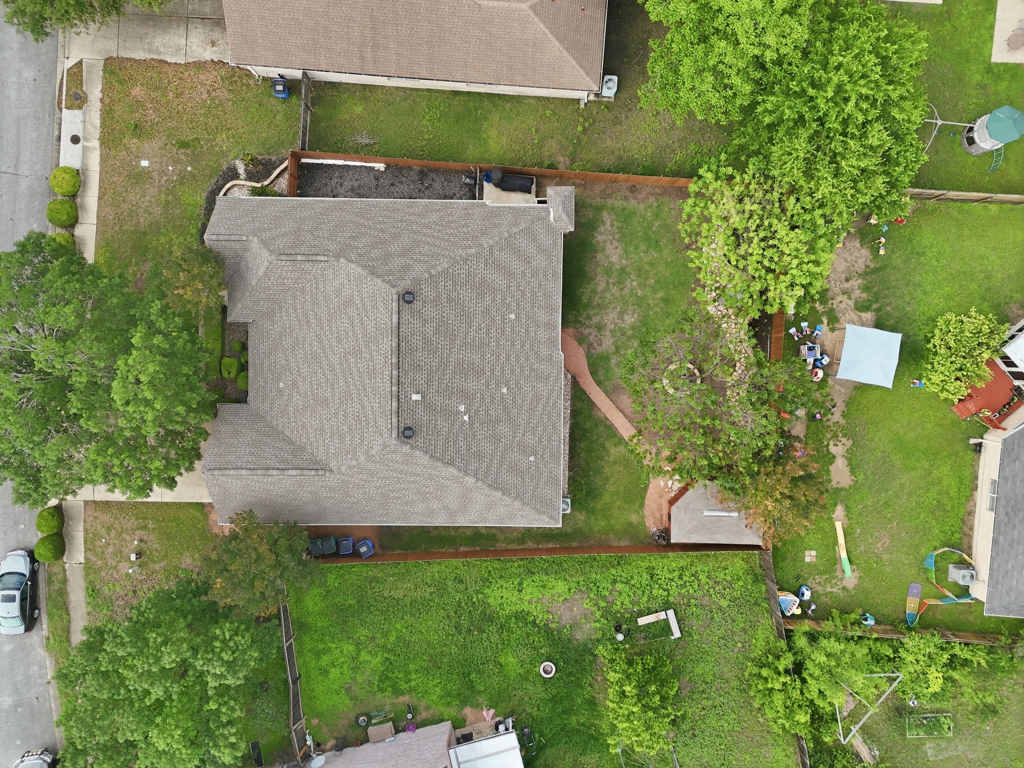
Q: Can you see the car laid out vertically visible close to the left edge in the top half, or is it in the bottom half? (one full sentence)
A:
Seen from above, the car laid out vertically visible close to the left edge lies in the bottom half of the view.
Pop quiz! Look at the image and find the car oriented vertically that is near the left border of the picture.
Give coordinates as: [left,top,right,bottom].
[0,548,41,635]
